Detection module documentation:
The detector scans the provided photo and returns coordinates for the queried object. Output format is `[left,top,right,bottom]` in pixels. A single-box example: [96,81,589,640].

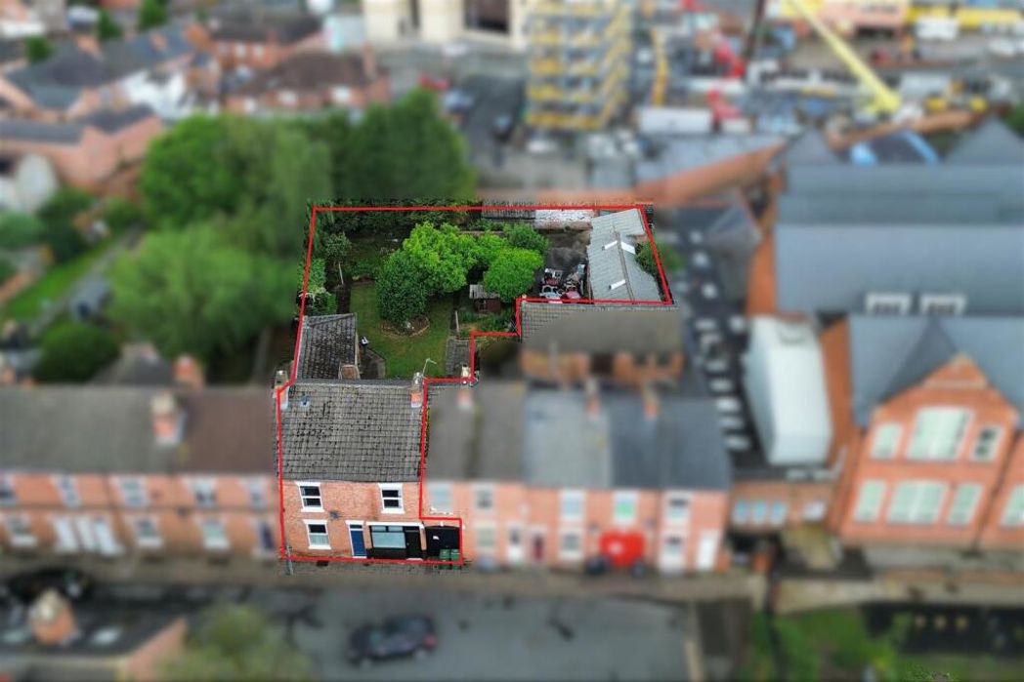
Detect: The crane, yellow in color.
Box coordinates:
[810,0,919,117]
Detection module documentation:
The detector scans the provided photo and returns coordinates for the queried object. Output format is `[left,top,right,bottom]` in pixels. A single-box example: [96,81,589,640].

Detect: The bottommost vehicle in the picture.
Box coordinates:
[343,617,440,669]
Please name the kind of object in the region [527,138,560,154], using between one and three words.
car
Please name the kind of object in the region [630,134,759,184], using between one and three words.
building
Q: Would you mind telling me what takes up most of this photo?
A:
buildings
